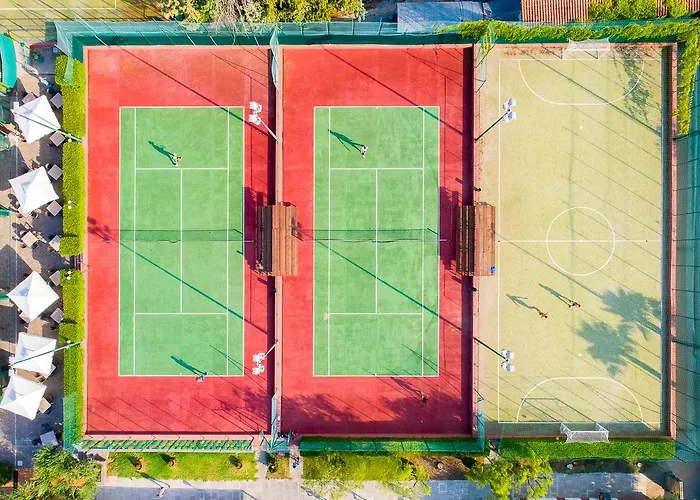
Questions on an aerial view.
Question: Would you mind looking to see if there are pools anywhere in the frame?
No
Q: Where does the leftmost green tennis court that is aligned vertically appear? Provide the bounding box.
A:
[90,49,277,432]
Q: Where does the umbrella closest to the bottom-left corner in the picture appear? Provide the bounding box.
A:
[0,376,46,420]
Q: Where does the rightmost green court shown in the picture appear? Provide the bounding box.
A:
[282,49,473,432]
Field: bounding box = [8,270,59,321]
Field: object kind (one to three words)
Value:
umbrella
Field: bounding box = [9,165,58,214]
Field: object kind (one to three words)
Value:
umbrella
